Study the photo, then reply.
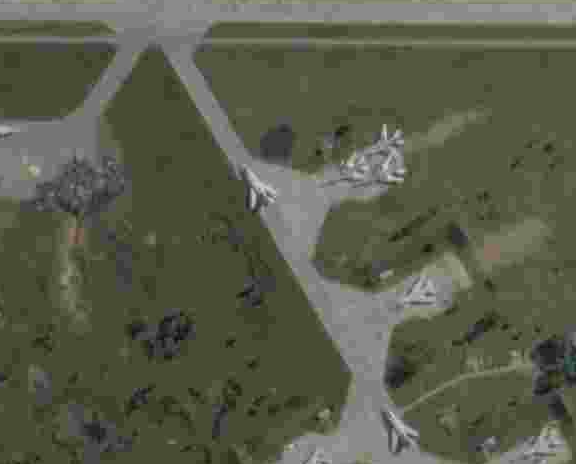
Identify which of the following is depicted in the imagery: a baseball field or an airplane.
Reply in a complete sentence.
Of the two, only an airplane appears.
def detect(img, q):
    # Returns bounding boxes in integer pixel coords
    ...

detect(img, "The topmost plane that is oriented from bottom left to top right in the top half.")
[357,126,403,160]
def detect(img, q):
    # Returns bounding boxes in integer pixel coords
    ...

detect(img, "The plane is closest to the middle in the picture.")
[244,168,279,213]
